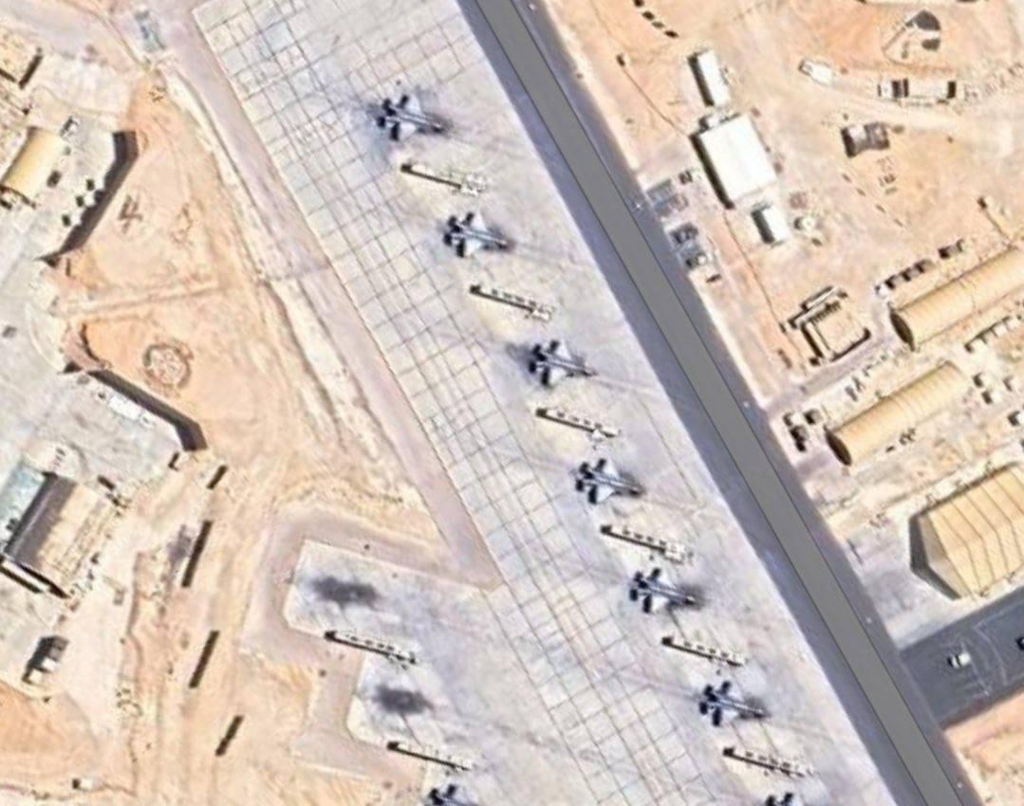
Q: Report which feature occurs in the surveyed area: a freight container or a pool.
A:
freight container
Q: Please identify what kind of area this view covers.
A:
airport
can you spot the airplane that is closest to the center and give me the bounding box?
[537,341,598,383]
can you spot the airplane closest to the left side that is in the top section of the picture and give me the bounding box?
[386,96,449,138]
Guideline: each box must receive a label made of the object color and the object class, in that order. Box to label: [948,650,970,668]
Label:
white vehicle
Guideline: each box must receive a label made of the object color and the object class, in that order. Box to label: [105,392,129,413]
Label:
white truck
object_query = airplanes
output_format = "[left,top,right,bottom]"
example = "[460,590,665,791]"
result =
[452,215,514,257]
[386,96,449,138]
[585,461,646,503]
[537,341,598,383]
[709,684,769,725]
[639,571,700,612]
[440,788,477,806]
